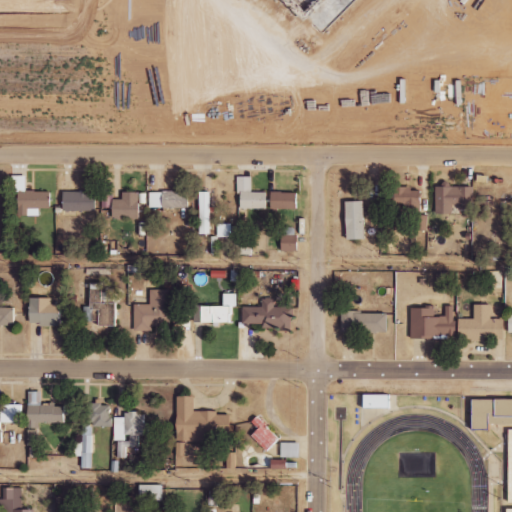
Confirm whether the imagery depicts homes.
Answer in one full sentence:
Yes, there's a home down there.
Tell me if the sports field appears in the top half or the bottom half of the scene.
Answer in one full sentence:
The bottom half of the photo is where the sports field is.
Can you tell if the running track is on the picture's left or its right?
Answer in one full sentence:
You can find the running track on the right side of the picture.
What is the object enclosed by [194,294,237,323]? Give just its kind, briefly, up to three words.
house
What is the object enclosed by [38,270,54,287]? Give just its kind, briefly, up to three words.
swimming pool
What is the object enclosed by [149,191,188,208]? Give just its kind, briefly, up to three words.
house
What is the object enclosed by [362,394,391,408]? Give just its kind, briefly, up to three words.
building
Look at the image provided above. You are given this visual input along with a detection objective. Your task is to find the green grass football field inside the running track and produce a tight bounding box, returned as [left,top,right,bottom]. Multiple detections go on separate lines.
[362,431,472,512]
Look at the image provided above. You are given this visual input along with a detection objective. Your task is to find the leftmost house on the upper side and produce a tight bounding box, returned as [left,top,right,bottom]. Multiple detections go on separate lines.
[14,175,50,220]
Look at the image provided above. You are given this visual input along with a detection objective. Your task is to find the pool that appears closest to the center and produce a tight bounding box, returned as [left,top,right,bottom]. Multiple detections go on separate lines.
[194,272,209,287]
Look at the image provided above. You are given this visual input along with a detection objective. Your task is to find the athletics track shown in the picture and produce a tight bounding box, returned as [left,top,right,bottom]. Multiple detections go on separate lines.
[344,414,489,512]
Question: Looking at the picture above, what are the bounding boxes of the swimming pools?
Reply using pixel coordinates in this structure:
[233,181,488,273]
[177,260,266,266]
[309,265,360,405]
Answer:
[194,272,209,287]
[38,270,54,287]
